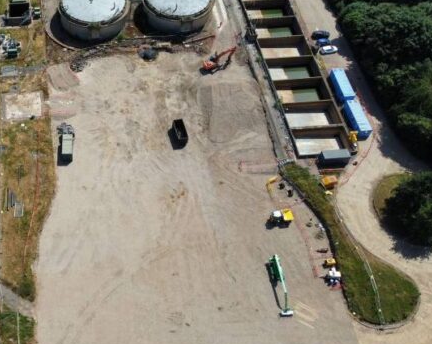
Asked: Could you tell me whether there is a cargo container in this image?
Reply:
Yes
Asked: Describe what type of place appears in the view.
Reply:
industrial area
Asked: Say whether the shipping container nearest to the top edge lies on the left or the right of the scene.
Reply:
right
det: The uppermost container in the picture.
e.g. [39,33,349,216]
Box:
[328,69,354,106]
